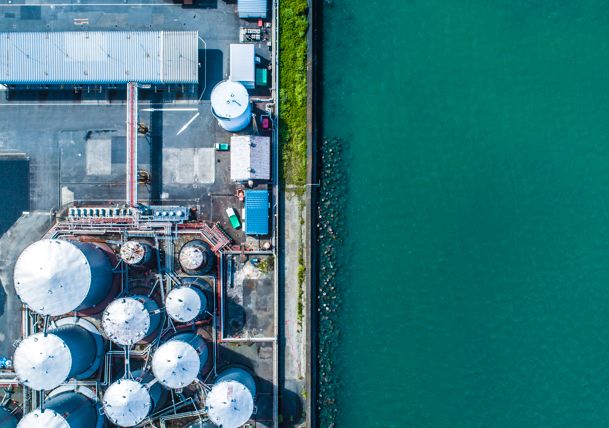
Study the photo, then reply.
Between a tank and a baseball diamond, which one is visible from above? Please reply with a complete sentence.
I can see a tank in this picture.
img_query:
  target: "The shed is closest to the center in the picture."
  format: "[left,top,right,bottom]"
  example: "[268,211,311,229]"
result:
[243,190,270,235]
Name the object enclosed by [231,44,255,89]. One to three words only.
building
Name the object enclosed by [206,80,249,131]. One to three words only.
storage tank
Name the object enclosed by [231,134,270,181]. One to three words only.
building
